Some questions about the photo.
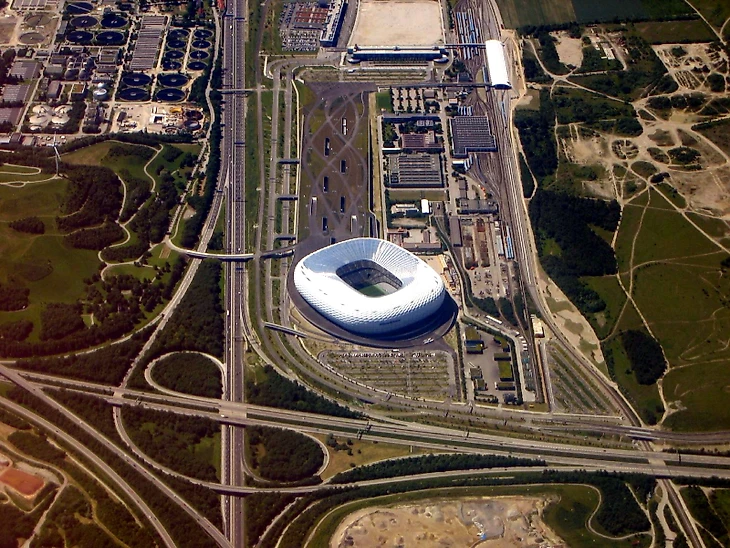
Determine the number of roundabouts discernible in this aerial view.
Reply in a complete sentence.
No roundabouts are visible.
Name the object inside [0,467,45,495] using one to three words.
sports field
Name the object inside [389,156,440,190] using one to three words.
building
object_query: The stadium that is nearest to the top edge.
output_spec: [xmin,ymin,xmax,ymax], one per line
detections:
[293,239,447,340]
